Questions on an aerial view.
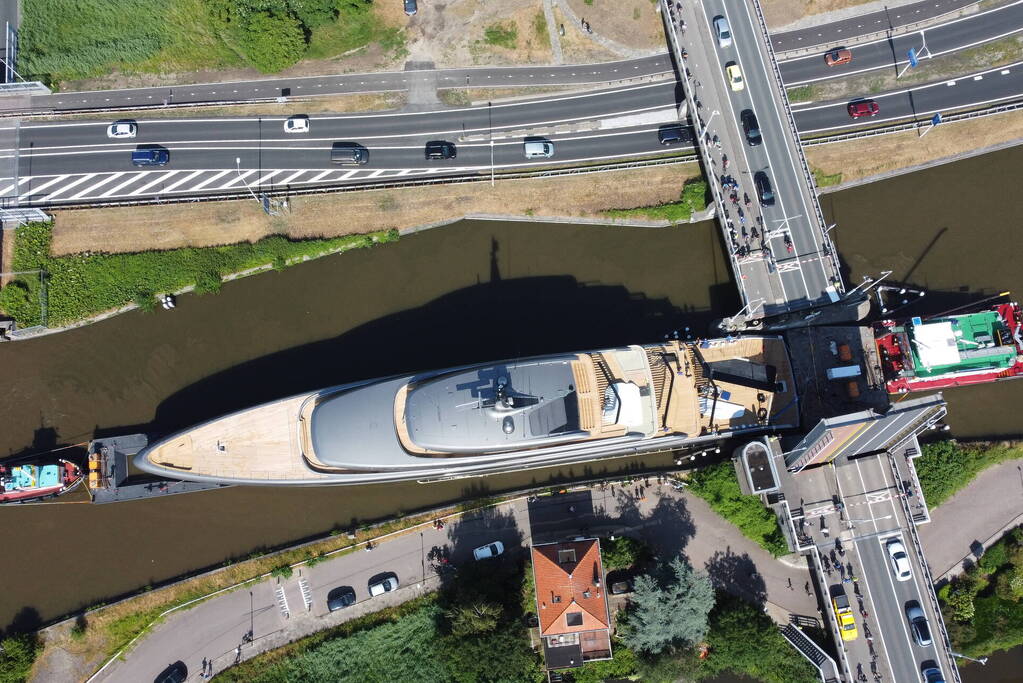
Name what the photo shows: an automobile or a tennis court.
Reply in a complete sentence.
There is an automobile in the scene.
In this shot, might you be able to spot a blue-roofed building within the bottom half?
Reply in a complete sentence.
No, there is no blue-roofed building within the bottom half.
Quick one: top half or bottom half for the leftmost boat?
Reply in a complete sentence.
The leftmost boat sits in the bottom half of the picture.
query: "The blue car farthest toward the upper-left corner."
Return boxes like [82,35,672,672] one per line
[131,147,170,166]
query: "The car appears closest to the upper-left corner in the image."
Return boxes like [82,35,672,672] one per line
[107,122,139,138]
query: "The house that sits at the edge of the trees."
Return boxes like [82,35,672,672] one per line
[530,537,610,671]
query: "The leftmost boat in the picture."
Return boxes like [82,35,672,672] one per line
[0,457,89,505]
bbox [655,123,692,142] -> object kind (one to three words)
car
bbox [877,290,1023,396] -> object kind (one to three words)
boat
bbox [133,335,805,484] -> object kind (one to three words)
boat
